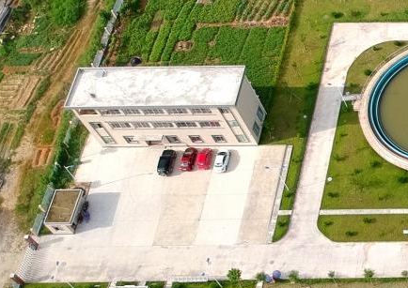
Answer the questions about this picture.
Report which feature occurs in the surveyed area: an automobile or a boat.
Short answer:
automobile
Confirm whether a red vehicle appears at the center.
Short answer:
Yes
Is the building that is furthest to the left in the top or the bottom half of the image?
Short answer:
bottom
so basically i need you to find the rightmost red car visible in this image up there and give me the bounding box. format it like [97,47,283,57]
[194,147,212,168]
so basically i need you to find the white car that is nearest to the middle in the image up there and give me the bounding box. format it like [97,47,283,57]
[212,150,229,171]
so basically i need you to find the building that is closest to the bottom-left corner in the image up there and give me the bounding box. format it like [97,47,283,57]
[43,188,87,235]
